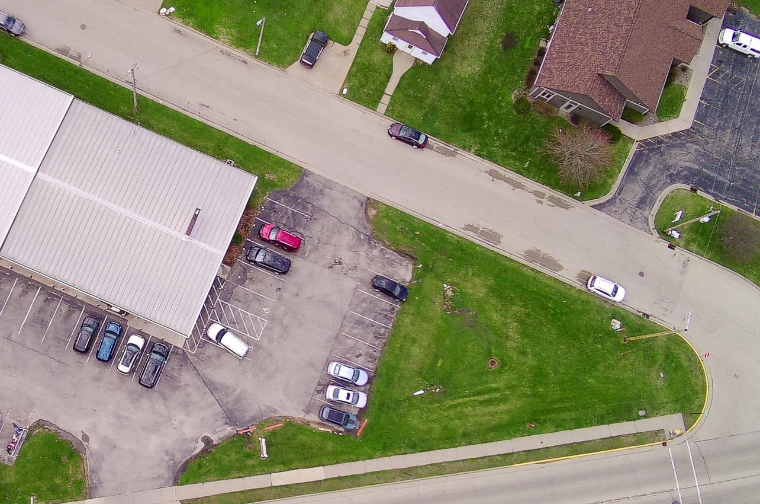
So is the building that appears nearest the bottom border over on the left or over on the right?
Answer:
left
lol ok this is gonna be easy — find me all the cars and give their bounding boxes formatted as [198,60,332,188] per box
[73,314,101,355]
[244,245,294,277]
[96,320,123,364]
[326,363,369,389]
[0,9,27,37]
[117,333,144,377]
[368,272,410,304]
[298,28,326,71]
[386,122,430,152]
[258,223,303,254]
[206,324,252,361]
[324,385,368,410]
[584,275,626,302]
[316,406,358,433]
[139,342,169,391]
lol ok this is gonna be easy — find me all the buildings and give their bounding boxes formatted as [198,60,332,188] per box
[382,0,468,64]
[0,64,258,340]
[528,0,728,123]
